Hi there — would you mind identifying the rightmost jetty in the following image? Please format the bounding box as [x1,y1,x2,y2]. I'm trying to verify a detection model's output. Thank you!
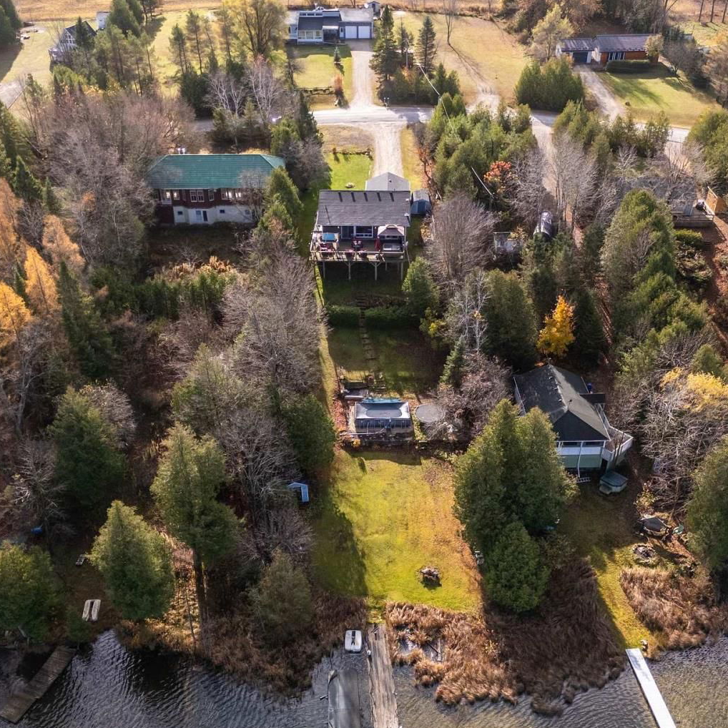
[627,649,674,728]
